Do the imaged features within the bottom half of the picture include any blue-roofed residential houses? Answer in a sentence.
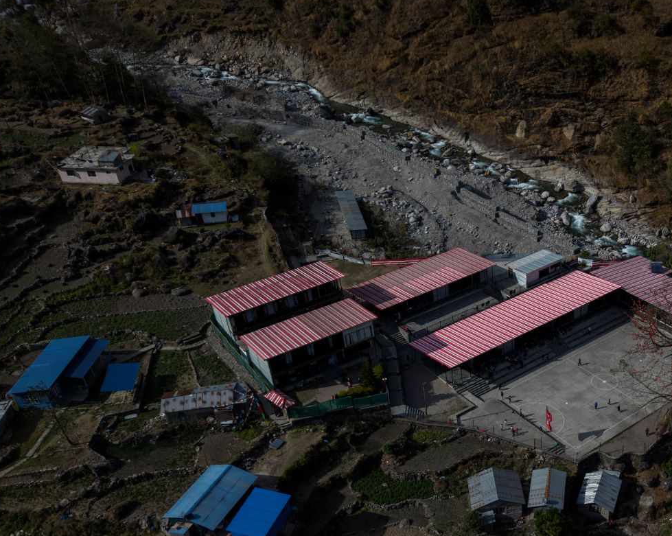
Yes, within the bottom half of the picture there is a blue-roofed residential house.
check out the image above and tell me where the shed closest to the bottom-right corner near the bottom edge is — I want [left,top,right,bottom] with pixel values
[576,468,624,524]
